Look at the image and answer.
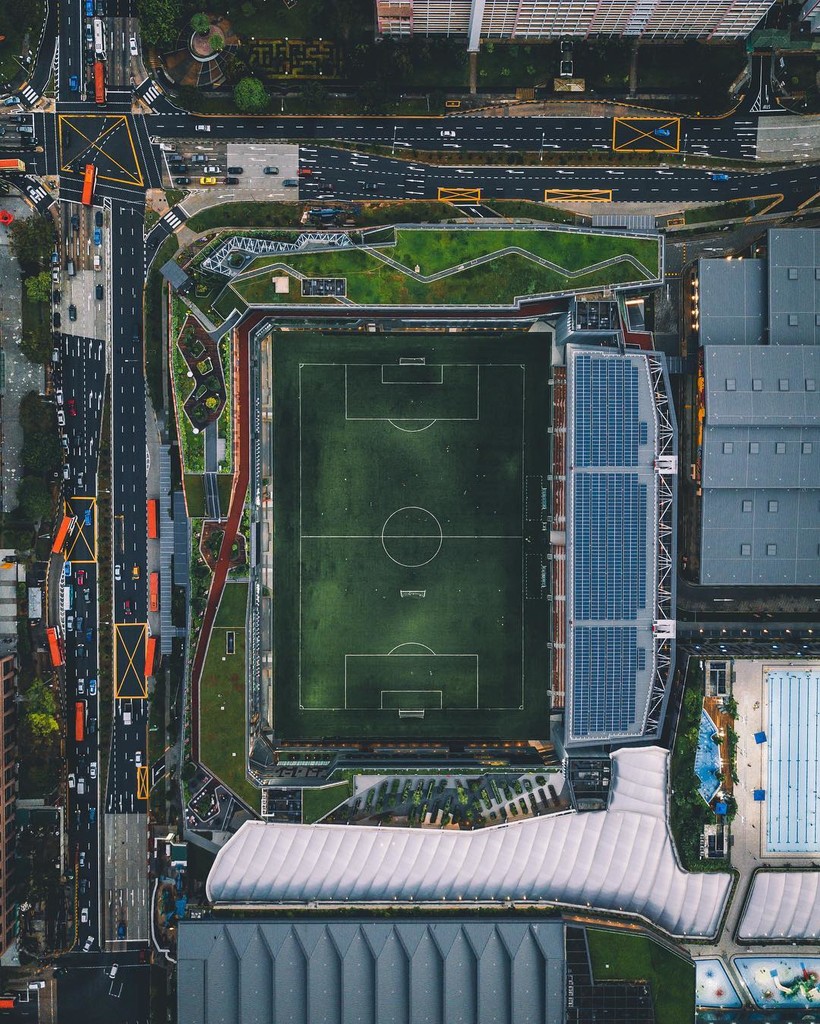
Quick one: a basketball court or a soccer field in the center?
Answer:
soccer field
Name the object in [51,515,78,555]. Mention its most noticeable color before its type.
orange bus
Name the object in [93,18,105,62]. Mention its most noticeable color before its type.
white vehicle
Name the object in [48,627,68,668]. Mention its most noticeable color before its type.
red bus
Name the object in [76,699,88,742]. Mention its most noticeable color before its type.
red vehicle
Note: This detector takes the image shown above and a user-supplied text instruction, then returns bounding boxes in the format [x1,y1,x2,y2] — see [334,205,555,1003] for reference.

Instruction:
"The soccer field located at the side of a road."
[273,333,551,740]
